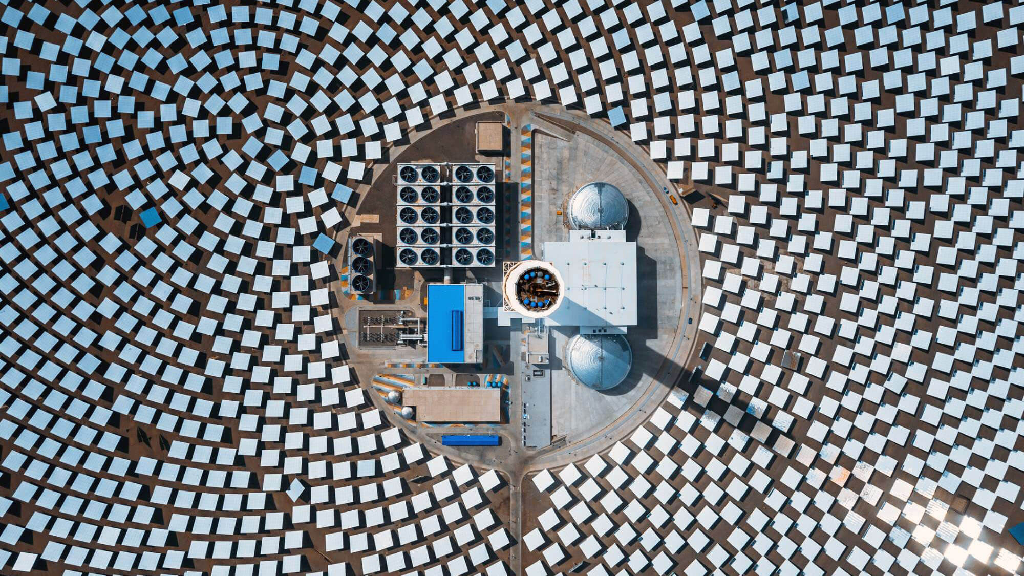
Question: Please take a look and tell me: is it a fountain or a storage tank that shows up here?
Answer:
storage tank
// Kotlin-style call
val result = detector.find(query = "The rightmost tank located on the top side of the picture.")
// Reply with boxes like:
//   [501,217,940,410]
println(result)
[565,181,628,230]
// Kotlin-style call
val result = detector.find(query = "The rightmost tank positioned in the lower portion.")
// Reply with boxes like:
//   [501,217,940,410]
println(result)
[563,328,632,390]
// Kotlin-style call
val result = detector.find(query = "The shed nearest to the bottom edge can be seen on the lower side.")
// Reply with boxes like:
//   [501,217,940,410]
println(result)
[442,434,500,446]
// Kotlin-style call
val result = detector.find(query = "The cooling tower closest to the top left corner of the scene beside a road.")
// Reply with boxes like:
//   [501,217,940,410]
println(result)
[348,236,377,294]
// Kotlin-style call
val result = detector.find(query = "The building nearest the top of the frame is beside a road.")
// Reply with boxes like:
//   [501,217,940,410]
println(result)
[475,122,504,153]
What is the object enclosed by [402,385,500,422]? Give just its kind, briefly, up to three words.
building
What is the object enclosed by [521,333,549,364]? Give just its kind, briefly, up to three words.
house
